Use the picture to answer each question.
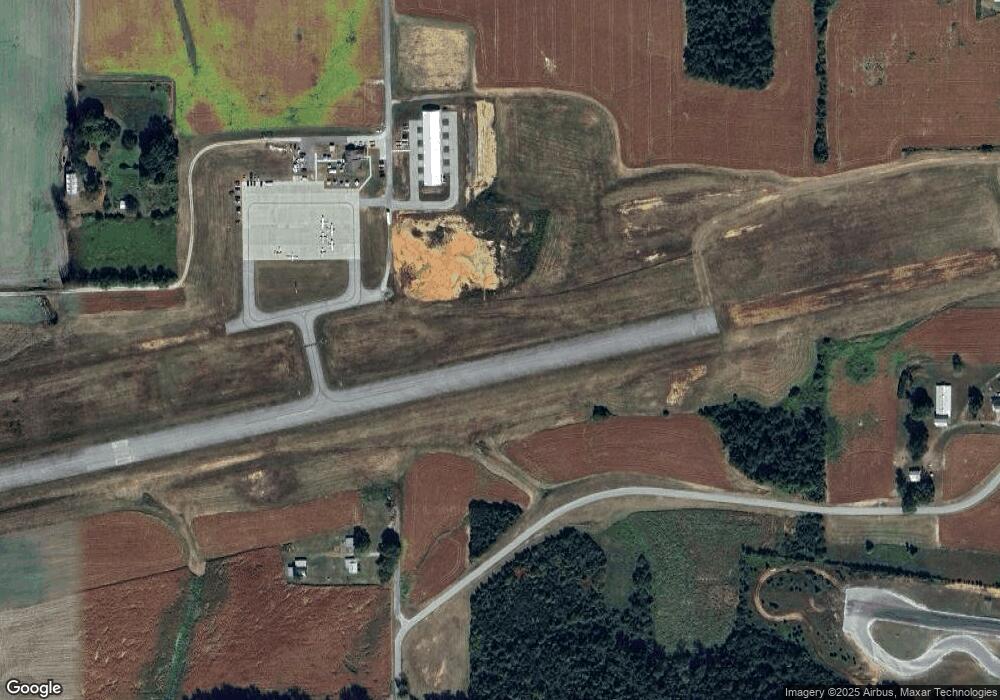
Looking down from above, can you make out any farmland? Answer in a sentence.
Yes, some farmland is visible.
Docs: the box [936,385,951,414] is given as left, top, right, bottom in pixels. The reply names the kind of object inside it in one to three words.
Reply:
barn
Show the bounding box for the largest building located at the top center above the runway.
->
[423,111,443,189]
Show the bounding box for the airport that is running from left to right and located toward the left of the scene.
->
[0,112,719,491]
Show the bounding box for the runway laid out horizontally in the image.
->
[0,309,719,491]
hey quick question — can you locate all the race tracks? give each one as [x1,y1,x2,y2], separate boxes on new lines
[843,587,1000,679]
